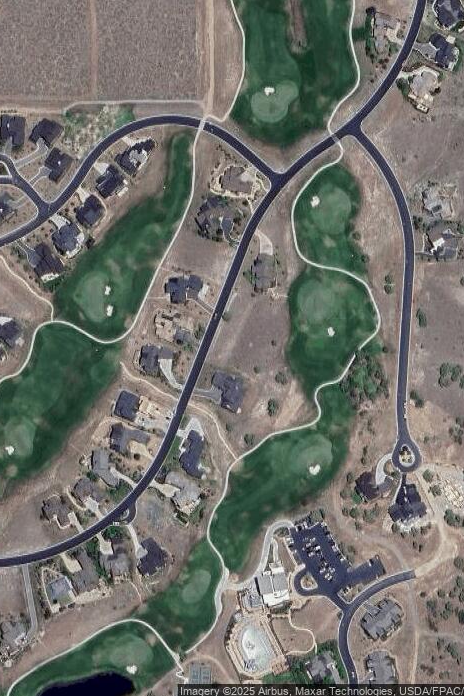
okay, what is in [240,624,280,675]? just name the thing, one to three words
swimming pool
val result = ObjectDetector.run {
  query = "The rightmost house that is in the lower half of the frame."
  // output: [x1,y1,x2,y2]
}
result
[389,481,431,523]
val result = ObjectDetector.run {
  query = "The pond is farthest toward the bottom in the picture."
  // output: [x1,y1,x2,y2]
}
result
[40,672,135,696]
